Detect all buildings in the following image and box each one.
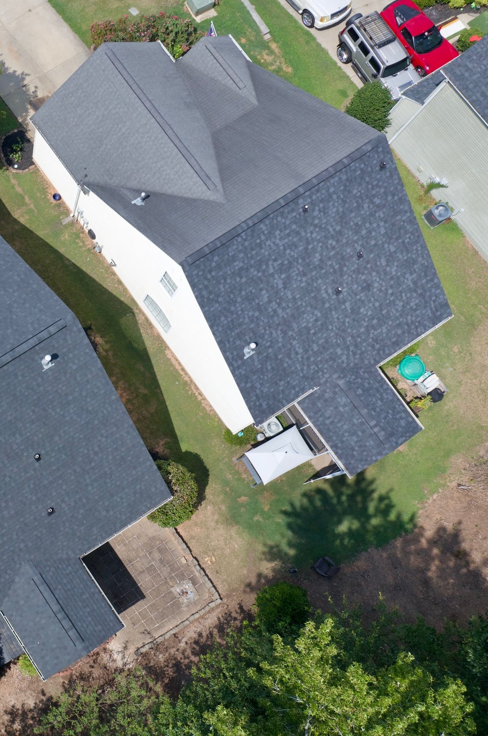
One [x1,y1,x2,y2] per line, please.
[0,236,181,685]
[26,33,458,479]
